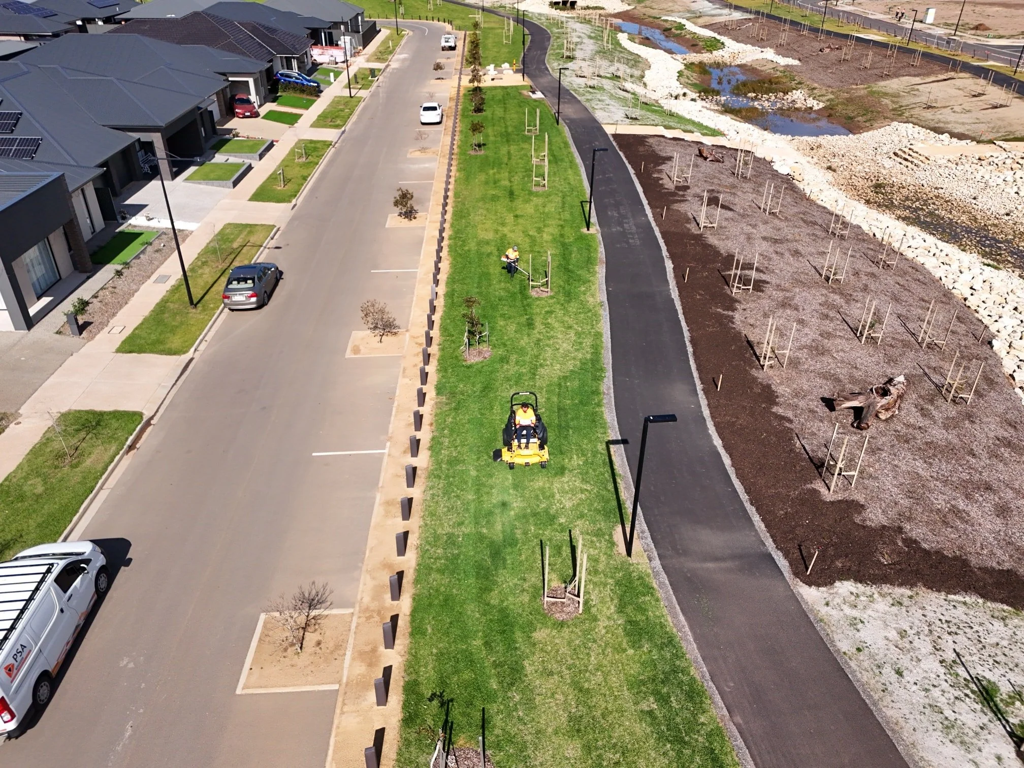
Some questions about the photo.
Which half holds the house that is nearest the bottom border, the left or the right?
left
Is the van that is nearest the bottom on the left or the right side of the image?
left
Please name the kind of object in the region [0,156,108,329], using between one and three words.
house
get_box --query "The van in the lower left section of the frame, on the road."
[0,545,107,738]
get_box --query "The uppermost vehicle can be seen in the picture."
[440,30,460,48]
